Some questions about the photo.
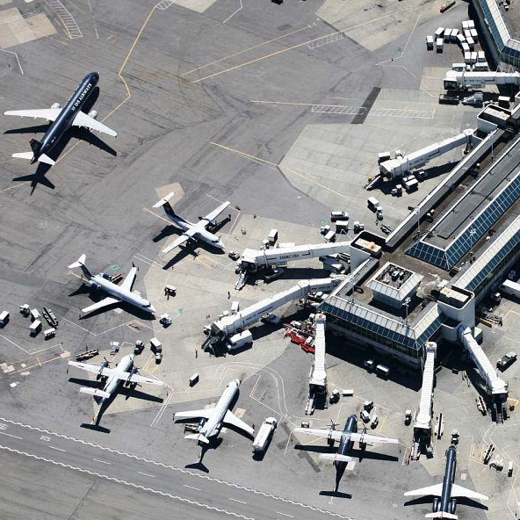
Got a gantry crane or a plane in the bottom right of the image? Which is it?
plane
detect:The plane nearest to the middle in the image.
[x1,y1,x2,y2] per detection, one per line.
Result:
[154,193,231,252]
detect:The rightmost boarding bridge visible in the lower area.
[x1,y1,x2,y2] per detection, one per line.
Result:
[461,322,507,423]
